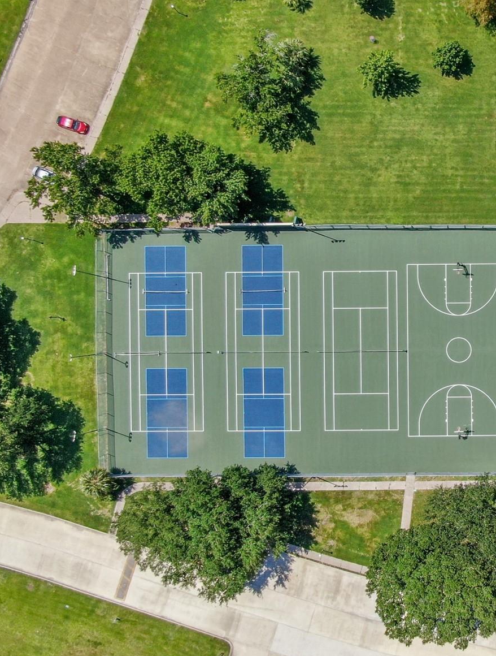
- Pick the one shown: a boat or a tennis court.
tennis court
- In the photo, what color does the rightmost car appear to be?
red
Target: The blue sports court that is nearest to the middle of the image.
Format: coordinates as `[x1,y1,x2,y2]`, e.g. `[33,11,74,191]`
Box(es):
[242,245,284,336]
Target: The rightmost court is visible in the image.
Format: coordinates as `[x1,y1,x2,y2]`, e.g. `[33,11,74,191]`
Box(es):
[407,264,496,437]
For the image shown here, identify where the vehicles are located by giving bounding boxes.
[28,164,59,183]
[53,112,88,133]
